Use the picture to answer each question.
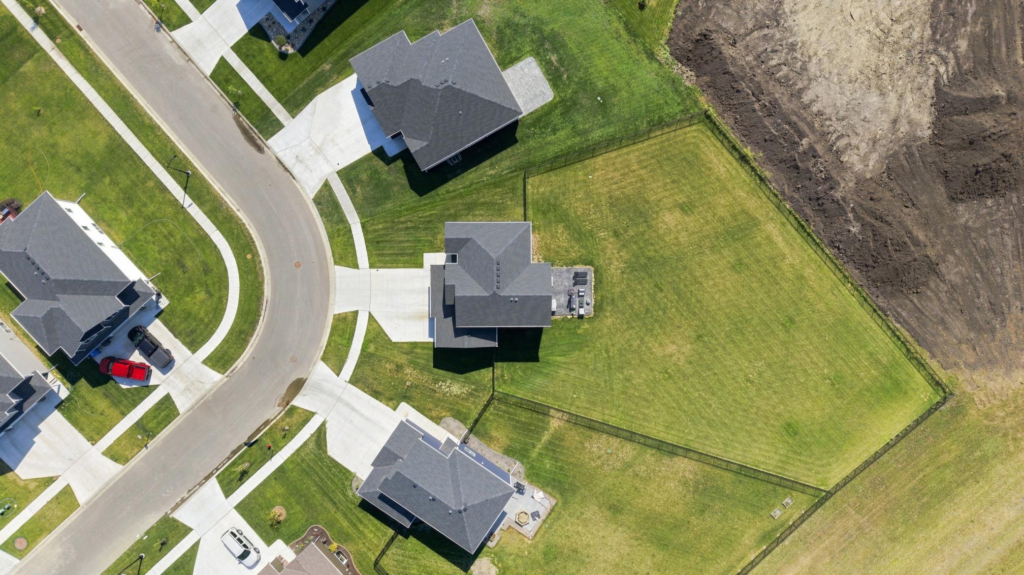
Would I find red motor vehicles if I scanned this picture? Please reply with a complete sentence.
Yes, you can see a red motor vehicle in this photo.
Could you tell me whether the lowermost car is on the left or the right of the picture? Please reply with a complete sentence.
The lowermost car appears in the left half of the scene.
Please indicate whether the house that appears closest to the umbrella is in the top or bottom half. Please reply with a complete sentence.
You can find the house that appears closest to the umbrella in the bottom half.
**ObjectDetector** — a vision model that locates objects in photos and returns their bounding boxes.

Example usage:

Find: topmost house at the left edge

[0,190,161,367]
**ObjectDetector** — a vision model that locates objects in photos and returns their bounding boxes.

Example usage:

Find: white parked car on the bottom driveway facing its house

[220,528,261,570]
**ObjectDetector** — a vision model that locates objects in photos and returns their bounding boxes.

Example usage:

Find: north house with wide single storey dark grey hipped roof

[348,18,524,176]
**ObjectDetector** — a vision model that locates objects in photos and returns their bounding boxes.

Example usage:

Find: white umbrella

[528,492,552,517]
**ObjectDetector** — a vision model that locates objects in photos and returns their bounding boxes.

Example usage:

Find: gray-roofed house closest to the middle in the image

[430,221,557,348]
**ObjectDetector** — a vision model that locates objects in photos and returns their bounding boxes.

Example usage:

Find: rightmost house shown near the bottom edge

[355,419,518,555]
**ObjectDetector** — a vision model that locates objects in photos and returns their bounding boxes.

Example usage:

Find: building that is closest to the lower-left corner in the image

[0,320,59,437]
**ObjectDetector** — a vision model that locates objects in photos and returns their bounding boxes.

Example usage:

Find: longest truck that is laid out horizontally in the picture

[100,356,155,381]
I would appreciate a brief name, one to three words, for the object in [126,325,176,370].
truck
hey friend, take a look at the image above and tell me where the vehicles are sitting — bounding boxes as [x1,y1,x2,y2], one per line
[126,325,176,370]
[220,528,261,570]
[100,356,155,381]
